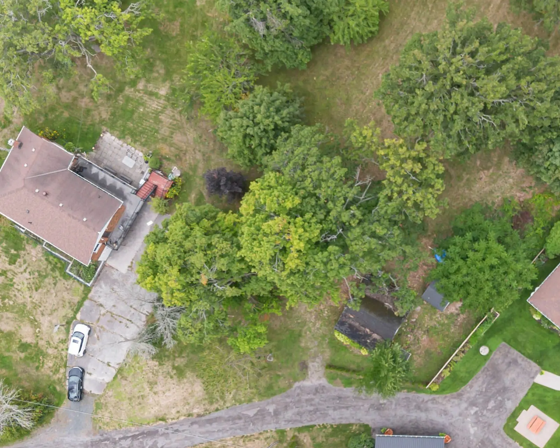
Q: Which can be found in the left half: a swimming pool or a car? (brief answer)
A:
car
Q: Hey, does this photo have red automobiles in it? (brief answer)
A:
No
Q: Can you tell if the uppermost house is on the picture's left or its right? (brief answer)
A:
left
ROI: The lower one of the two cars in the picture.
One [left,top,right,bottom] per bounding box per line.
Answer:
[65,365,85,402]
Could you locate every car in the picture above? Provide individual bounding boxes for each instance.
[65,365,85,402]
[69,321,93,359]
